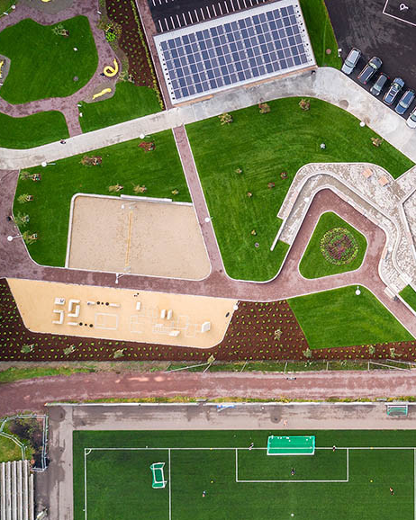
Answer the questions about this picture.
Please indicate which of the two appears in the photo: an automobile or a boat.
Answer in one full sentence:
Of the two, only an automobile appears.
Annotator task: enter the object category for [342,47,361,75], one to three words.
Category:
car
